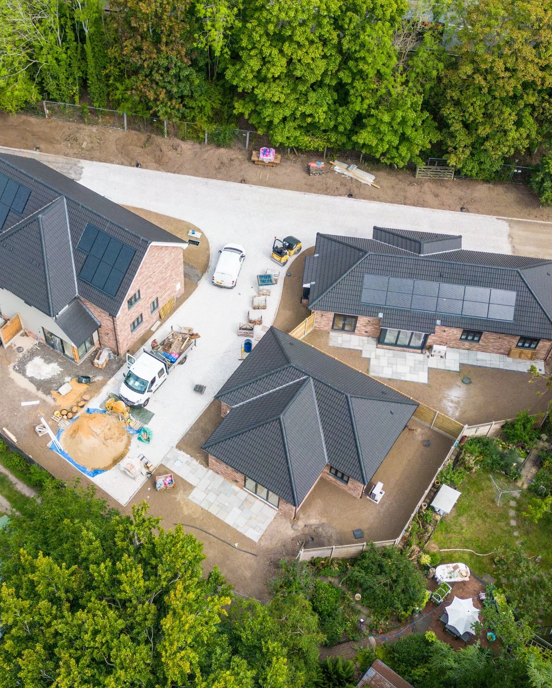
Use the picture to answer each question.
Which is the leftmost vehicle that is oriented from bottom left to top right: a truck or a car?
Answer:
truck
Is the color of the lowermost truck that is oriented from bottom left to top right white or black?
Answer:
white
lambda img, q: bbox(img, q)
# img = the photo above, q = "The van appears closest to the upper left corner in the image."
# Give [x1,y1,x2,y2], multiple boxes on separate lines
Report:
[211,245,244,291]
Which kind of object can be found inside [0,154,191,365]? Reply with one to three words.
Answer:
house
